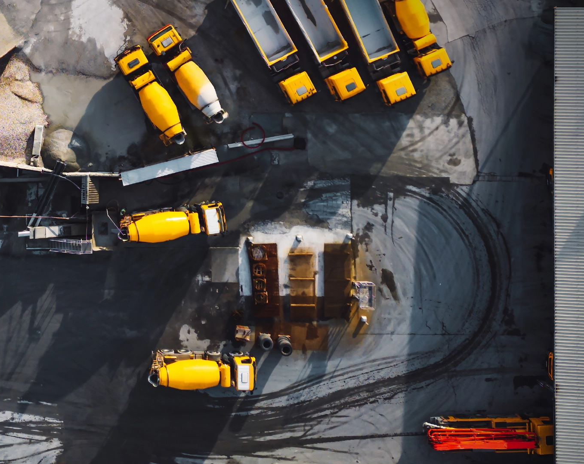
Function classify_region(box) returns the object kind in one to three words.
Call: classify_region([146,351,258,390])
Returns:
truck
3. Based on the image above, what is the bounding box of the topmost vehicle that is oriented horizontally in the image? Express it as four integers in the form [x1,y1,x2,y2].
[116,199,229,241]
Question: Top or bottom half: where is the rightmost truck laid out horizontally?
bottom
